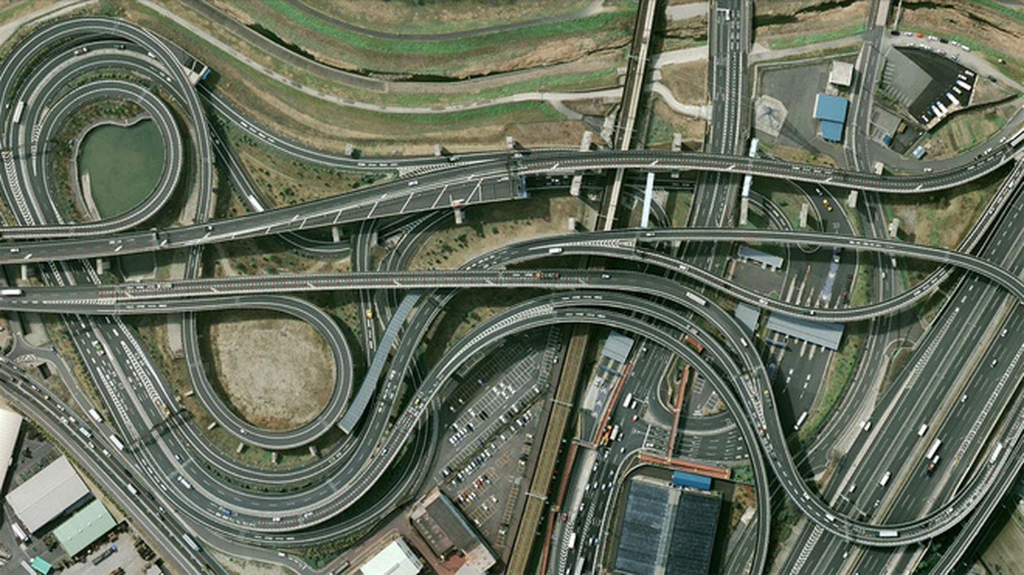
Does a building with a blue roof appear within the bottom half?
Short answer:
Yes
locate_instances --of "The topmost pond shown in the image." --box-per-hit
[78,119,170,221]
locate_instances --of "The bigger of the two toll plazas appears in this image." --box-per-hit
[762,242,857,440]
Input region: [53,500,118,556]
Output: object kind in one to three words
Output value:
building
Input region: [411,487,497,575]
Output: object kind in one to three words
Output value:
building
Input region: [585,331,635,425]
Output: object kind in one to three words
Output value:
toll station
